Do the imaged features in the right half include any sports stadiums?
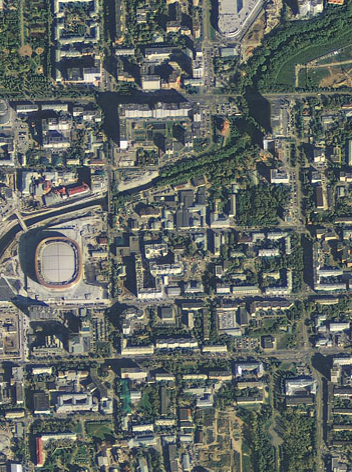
No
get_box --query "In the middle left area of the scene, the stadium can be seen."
[35,237,82,289]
